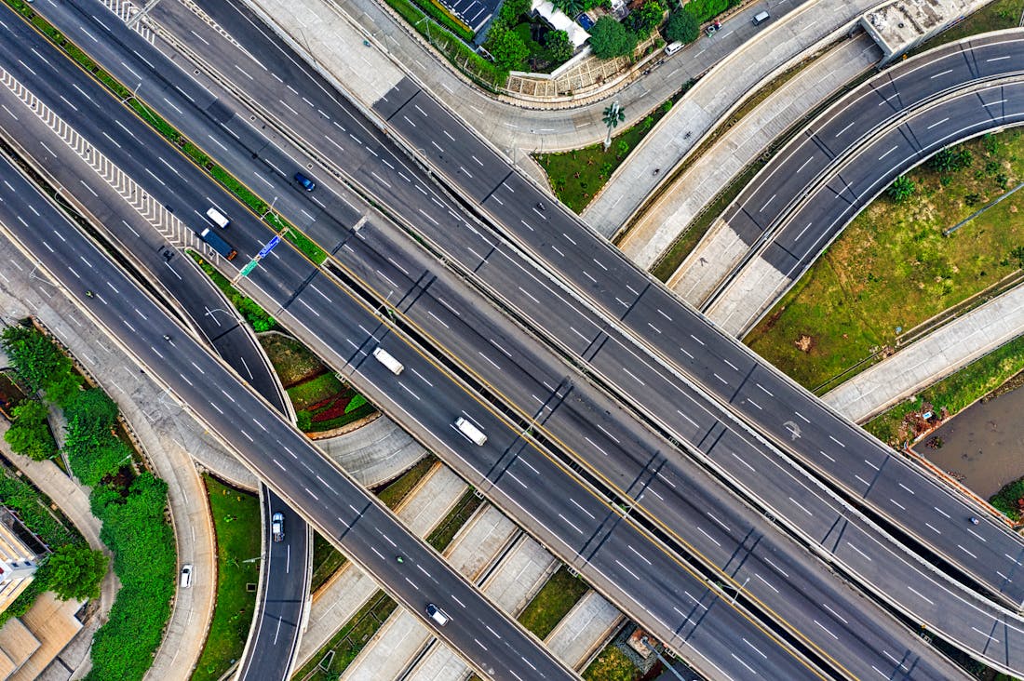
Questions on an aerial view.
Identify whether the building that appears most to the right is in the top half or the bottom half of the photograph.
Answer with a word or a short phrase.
top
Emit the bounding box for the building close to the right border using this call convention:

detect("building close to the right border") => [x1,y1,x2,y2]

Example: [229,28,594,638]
[848,0,983,71]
